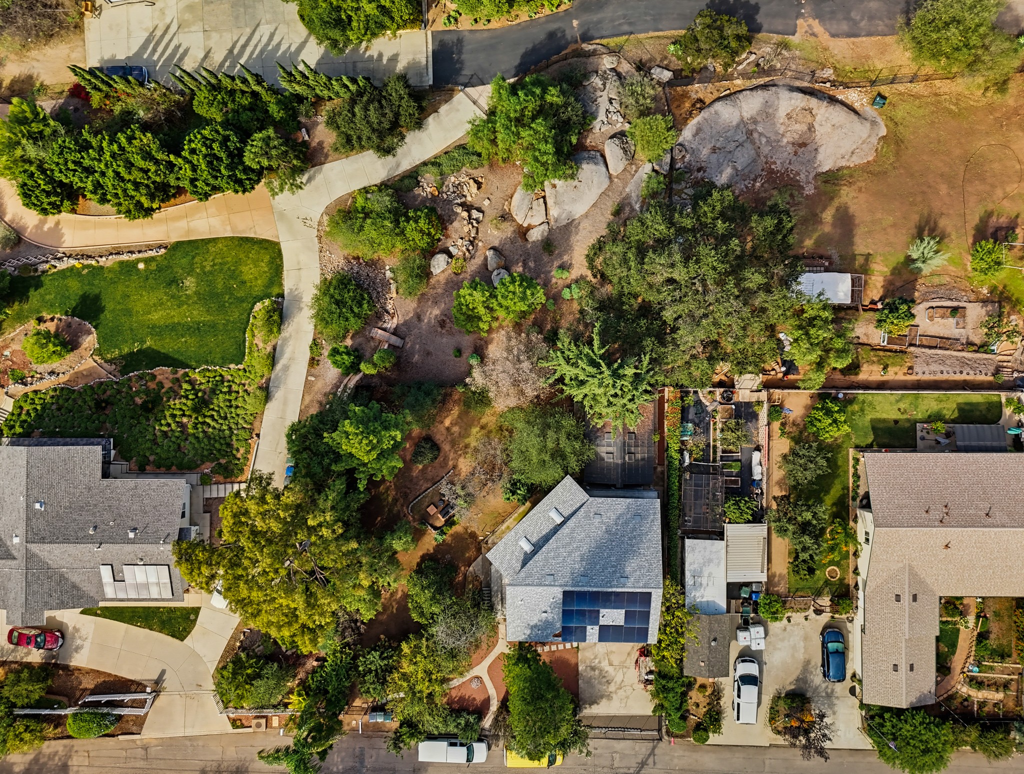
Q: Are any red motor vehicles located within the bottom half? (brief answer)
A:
Yes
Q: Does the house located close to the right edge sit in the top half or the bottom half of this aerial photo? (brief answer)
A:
bottom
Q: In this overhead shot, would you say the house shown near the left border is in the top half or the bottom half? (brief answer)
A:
bottom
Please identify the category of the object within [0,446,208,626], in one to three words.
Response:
house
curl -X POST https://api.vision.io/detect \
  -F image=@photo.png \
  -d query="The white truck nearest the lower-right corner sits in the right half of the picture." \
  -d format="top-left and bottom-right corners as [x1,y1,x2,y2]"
[731,655,761,729]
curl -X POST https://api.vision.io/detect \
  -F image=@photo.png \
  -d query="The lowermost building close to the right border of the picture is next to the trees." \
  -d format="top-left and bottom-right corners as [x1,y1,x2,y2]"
[849,451,1024,708]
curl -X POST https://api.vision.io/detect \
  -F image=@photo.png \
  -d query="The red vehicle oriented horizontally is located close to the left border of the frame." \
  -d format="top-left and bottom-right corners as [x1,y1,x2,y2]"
[7,625,68,654]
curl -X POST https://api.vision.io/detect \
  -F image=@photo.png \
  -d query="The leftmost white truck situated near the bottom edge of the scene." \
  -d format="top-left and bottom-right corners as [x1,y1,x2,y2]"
[417,735,488,768]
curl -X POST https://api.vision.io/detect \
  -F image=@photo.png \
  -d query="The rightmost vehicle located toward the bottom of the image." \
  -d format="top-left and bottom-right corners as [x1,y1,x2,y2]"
[818,626,848,683]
